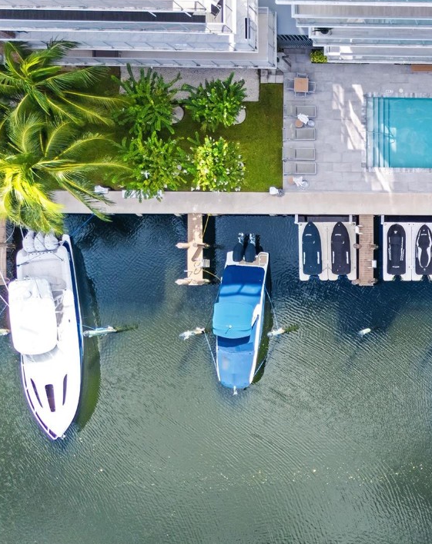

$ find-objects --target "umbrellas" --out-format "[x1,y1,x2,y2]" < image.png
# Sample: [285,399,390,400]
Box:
[298,113,318,127]
[291,176,312,191]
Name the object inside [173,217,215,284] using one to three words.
pier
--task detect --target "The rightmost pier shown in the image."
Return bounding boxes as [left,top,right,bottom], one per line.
[380,217,432,281]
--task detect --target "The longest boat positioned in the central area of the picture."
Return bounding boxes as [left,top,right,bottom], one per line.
[212,226,273,396]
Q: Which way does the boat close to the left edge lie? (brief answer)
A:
up and down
